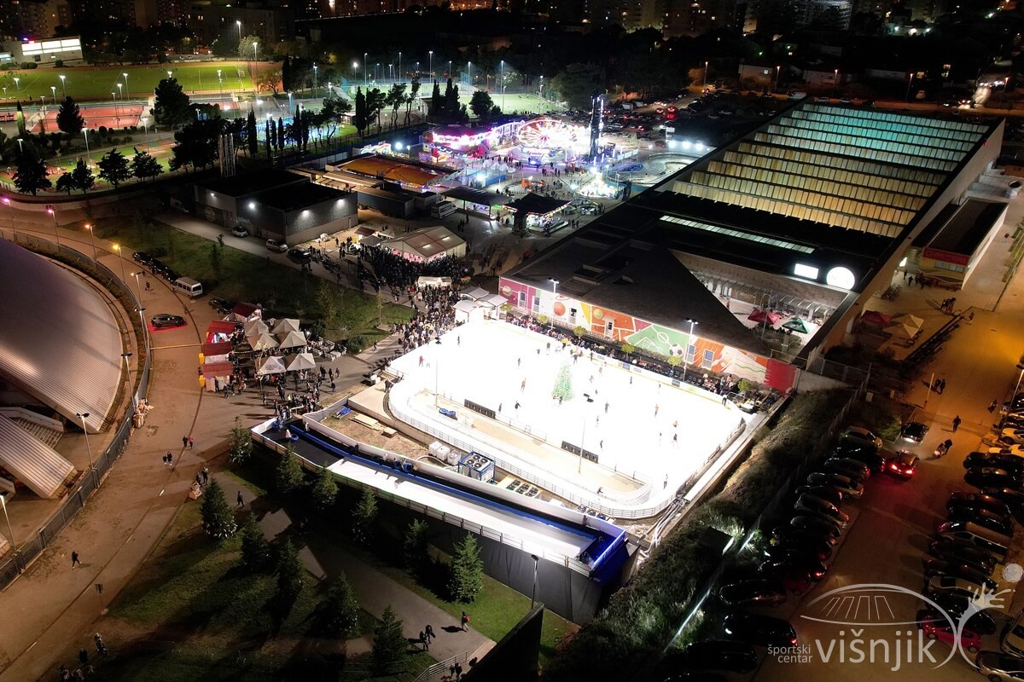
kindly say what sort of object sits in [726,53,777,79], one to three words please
house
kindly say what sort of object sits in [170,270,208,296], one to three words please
vehicle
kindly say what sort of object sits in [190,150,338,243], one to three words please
building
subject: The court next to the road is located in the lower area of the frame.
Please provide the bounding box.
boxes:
[387,321,745,524]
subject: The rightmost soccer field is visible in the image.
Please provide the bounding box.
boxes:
[301,81,560,116]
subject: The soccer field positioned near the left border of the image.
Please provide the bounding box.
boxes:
[0,63,257,99]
